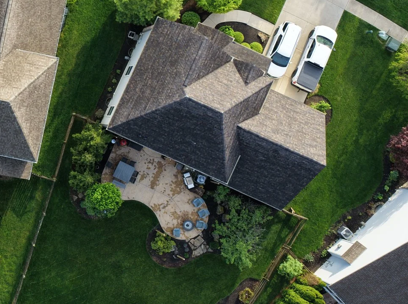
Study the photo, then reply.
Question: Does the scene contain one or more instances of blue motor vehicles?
No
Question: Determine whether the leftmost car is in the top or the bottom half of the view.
top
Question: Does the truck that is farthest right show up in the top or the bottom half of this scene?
top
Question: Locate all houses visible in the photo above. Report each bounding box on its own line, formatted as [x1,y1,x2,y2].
[309,187,408,304]
[103,17,327,212]
[0,0,67,181]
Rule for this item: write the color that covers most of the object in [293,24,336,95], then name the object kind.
white truck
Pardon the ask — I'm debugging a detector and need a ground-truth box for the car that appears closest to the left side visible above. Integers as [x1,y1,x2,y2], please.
[267,18,306,80]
